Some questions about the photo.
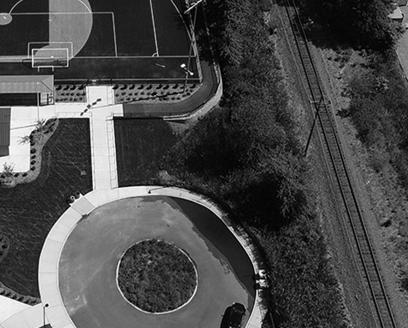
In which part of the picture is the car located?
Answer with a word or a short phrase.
bottom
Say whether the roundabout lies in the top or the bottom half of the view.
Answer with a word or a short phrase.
bottom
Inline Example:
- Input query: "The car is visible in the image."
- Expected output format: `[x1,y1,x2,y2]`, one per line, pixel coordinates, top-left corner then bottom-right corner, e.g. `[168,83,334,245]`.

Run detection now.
[220,303,246,328]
